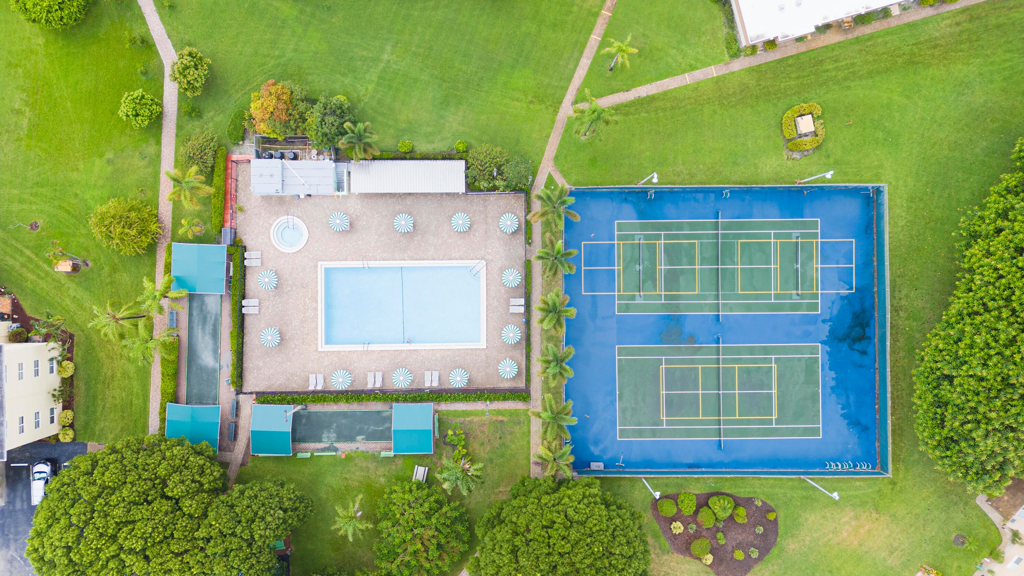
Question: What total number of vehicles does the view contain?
1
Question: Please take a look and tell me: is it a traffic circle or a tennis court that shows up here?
tennis court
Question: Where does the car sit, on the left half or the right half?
left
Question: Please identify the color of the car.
white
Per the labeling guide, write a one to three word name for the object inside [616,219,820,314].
tennis court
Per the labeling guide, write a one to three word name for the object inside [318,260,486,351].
swimming pool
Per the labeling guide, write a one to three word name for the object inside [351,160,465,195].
building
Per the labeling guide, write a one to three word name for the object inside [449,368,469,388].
umbrella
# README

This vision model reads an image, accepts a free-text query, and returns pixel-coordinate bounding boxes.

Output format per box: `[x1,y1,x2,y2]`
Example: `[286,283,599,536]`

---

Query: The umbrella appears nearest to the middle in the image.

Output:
[501,268,521,288]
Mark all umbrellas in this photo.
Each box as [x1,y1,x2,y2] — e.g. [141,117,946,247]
[501,268,521,288]
[331,369,351,389]
[451,212,471,232]
[499,213,519,234]
[501,324,521,345]
[394,213,414,233]
[498,359,518,379]
[329,212,350,232]
[449,368,469,388]
[258,270,278,290]
[261,327,281,348]
[392,368,412,388]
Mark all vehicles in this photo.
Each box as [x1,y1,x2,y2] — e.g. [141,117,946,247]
[29,459,54,505]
